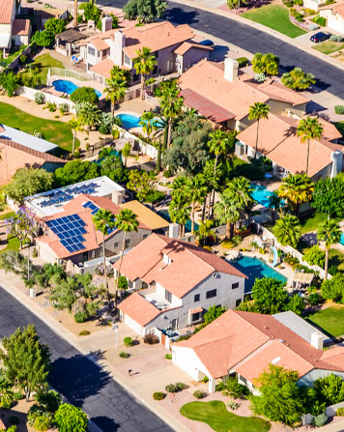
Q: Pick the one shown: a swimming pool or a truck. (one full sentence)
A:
There is a swimming pool in the scene.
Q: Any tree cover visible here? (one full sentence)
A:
Yes, there's tree cover in this view.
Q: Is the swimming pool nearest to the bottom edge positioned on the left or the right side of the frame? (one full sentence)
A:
It is on the right.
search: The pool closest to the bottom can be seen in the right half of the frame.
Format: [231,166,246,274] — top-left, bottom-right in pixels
[233,254,290,288]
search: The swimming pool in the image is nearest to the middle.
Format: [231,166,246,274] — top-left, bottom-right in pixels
[153,207,204,232]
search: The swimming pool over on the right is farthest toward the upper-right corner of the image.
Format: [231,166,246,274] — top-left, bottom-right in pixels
[245,179,287,208]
